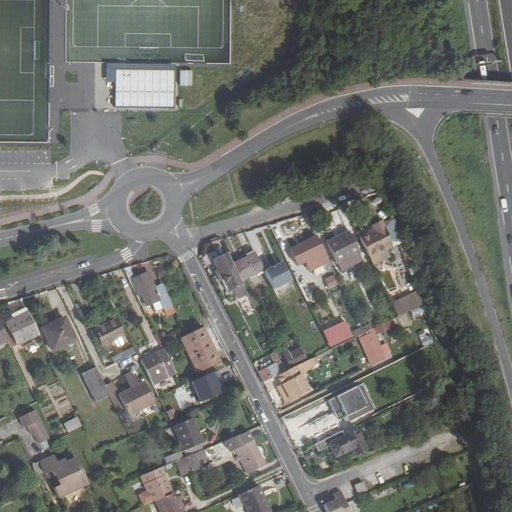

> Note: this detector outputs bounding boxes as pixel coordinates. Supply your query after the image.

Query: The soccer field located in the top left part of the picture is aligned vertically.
[0,0,48,140]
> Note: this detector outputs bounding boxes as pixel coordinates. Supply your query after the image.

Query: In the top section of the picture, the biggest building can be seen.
[105,62,176,108]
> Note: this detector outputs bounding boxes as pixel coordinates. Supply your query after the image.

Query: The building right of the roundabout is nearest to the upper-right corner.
[360,219,400,264]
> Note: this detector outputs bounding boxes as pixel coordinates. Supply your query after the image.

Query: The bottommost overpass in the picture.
[462,80,512,118]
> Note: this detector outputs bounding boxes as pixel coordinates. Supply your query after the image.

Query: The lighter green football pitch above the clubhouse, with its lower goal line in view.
[66,0,230,62]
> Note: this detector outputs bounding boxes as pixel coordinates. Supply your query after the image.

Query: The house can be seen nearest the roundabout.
[133,257,176,316]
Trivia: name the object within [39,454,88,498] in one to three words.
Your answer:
house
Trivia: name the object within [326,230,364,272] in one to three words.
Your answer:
house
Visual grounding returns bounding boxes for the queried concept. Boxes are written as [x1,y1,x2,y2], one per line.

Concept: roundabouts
[107,166,199,256]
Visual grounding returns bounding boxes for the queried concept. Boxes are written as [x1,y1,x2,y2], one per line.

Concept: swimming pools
[382,270,397,292]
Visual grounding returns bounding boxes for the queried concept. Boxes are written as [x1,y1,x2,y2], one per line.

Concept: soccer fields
[0,0,48,140]
[66,0,230,62]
